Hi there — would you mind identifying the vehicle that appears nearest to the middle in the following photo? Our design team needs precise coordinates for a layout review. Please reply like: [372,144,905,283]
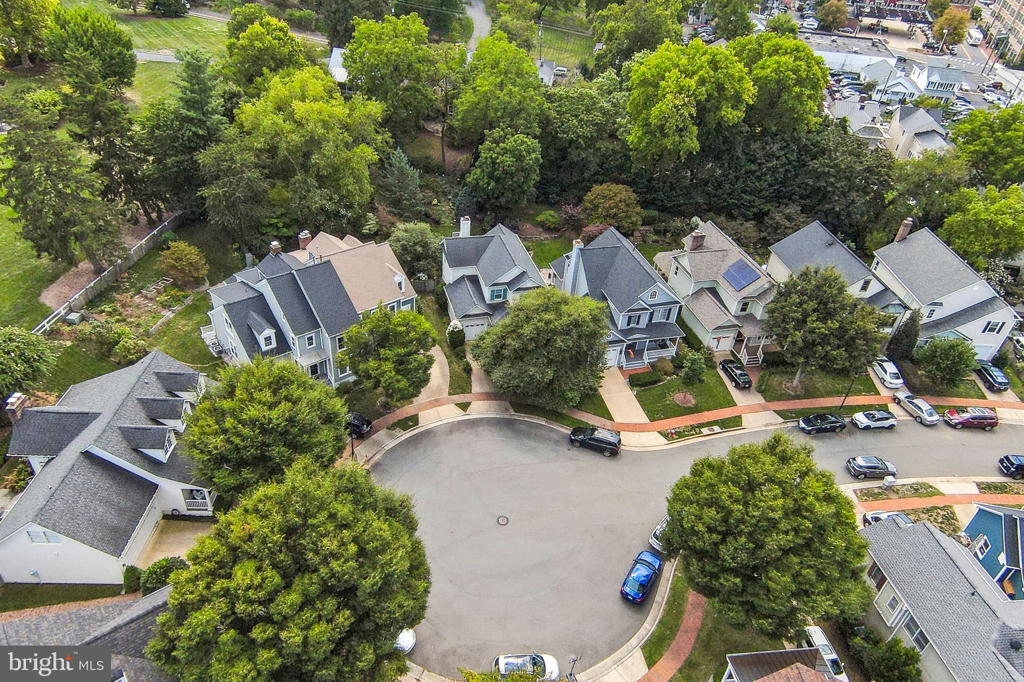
[568,425,625,458]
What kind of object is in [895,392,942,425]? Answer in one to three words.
car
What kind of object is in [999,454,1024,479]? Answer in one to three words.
car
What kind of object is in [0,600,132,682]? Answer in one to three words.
house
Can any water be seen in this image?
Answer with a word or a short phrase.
No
